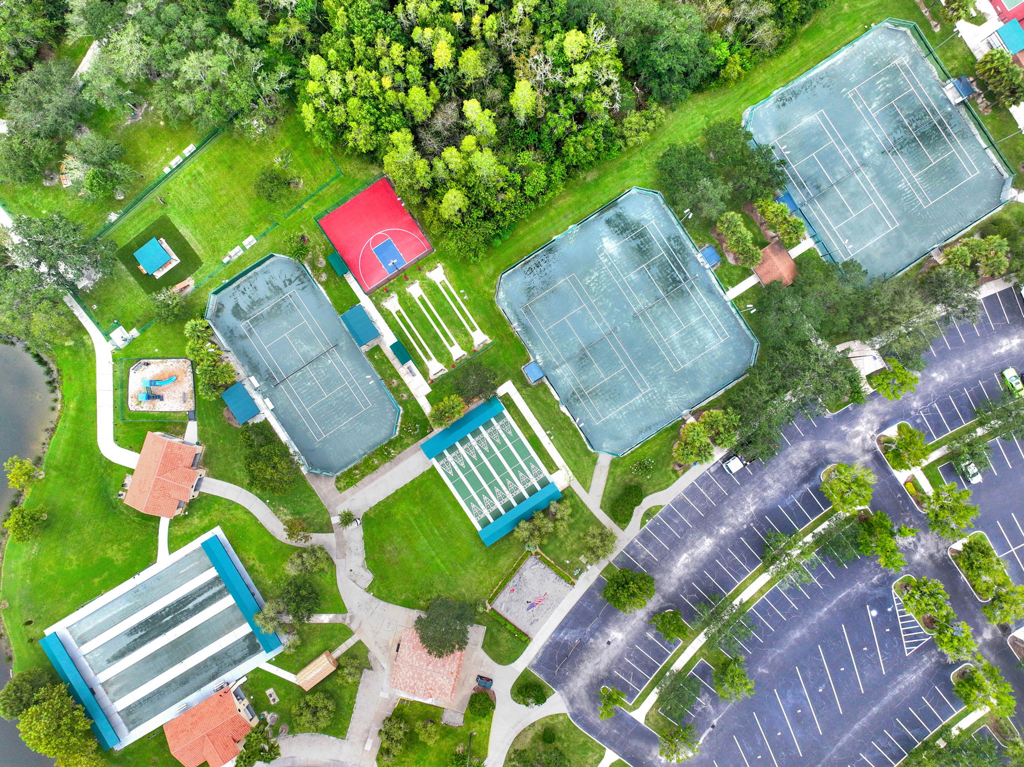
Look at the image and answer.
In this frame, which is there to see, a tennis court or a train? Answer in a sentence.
Visible in the photo is a tennis court.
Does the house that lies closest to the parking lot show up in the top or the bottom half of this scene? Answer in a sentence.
You can find the house that lies closest to the parking lot in the bottom half.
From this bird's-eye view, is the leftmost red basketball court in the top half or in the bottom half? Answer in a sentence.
The top half of the photo is where the leftmost red basketball court is.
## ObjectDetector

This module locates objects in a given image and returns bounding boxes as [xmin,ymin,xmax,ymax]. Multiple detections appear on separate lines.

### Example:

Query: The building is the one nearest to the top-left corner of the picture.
[134,237,177,276]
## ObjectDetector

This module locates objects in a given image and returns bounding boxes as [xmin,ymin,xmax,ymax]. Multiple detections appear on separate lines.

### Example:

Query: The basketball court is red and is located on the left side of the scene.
[319,178,431,290]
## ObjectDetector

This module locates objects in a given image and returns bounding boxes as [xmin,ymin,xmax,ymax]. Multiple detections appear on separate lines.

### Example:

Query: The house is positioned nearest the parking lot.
[389,626,468,704]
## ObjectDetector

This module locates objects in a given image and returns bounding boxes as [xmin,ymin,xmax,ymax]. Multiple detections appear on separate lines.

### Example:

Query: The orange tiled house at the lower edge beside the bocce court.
[164,671,263,767]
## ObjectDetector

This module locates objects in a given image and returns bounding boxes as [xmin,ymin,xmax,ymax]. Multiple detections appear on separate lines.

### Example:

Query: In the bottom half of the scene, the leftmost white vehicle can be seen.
[722,452,754,475]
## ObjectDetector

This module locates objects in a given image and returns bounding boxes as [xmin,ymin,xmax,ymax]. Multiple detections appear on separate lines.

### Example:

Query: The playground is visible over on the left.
[127,358,194,411]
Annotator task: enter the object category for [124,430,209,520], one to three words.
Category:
house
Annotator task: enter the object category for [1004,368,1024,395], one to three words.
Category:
car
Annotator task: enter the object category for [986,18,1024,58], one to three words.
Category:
building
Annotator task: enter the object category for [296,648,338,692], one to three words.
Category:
shed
